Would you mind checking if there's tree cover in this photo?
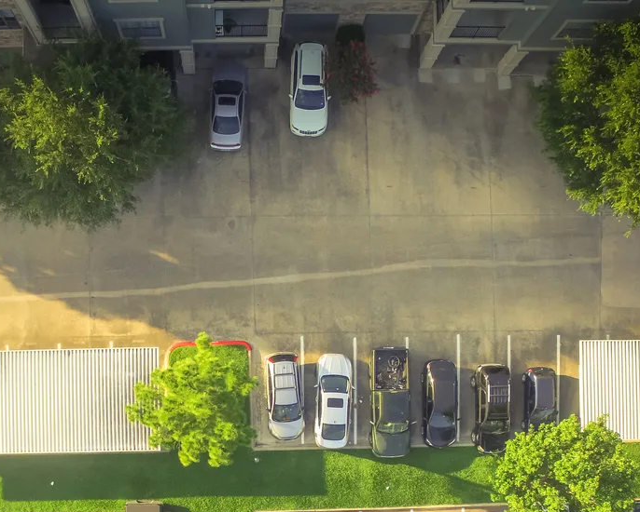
Yes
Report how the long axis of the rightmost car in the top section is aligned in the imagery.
from top to bottom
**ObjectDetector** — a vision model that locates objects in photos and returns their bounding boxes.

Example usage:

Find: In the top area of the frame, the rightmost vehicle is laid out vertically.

[288,42,332,139]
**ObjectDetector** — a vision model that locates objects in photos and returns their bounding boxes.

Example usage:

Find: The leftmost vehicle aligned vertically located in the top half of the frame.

[207,62,248,154]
